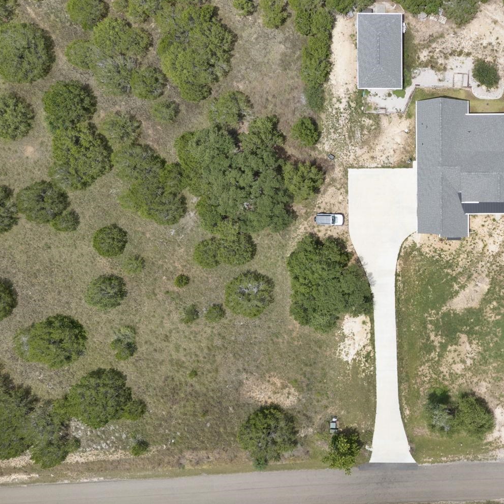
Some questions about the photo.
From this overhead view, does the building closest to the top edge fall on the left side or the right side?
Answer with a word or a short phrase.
right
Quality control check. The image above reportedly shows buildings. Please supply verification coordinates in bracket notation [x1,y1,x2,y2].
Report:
[415,98,504,240]
[357,12,403,90]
